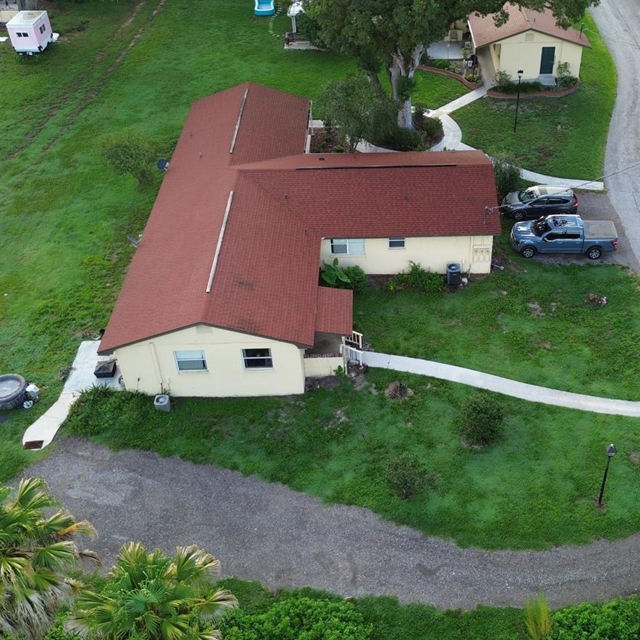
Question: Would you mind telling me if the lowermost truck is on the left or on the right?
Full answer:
It is on the right.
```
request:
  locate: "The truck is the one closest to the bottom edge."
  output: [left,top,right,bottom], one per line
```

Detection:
[509,211,620,256]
